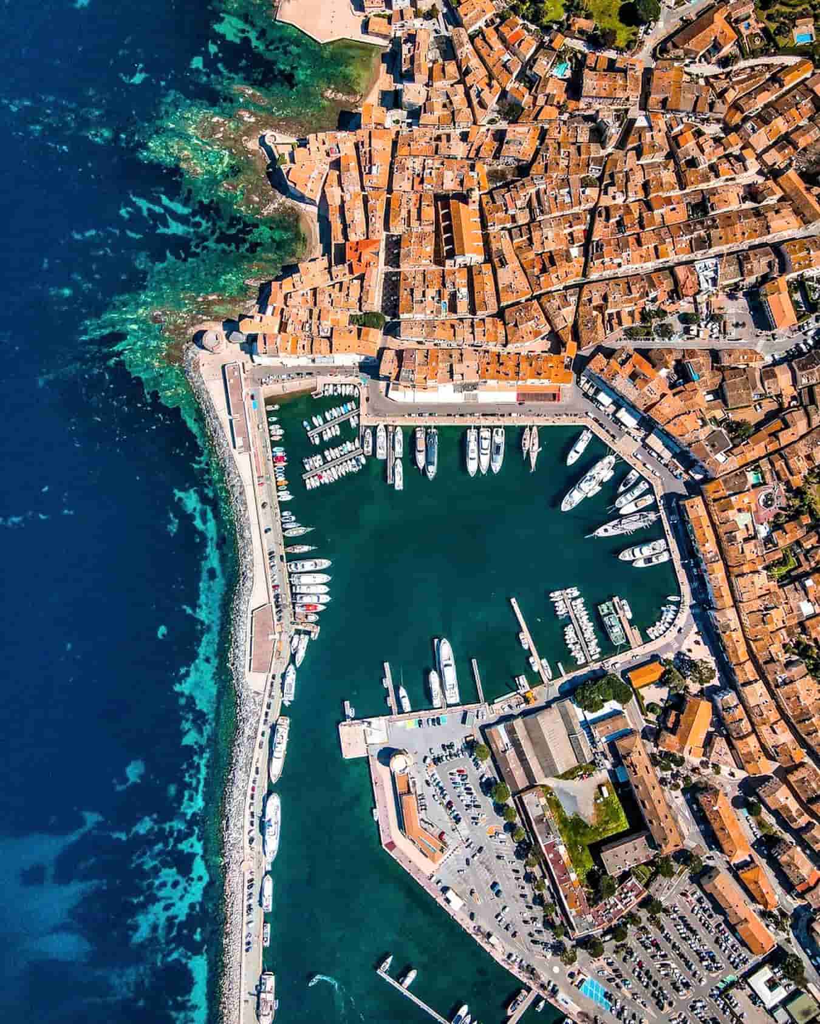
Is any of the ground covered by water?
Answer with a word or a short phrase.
Yes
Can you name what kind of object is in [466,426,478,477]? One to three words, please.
boat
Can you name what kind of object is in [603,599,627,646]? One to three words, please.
ship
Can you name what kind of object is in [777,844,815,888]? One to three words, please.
house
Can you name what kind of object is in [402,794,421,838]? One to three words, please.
building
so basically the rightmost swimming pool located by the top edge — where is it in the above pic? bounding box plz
[794,31,817,45]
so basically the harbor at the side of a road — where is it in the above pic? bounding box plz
[255,375,691,1024]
